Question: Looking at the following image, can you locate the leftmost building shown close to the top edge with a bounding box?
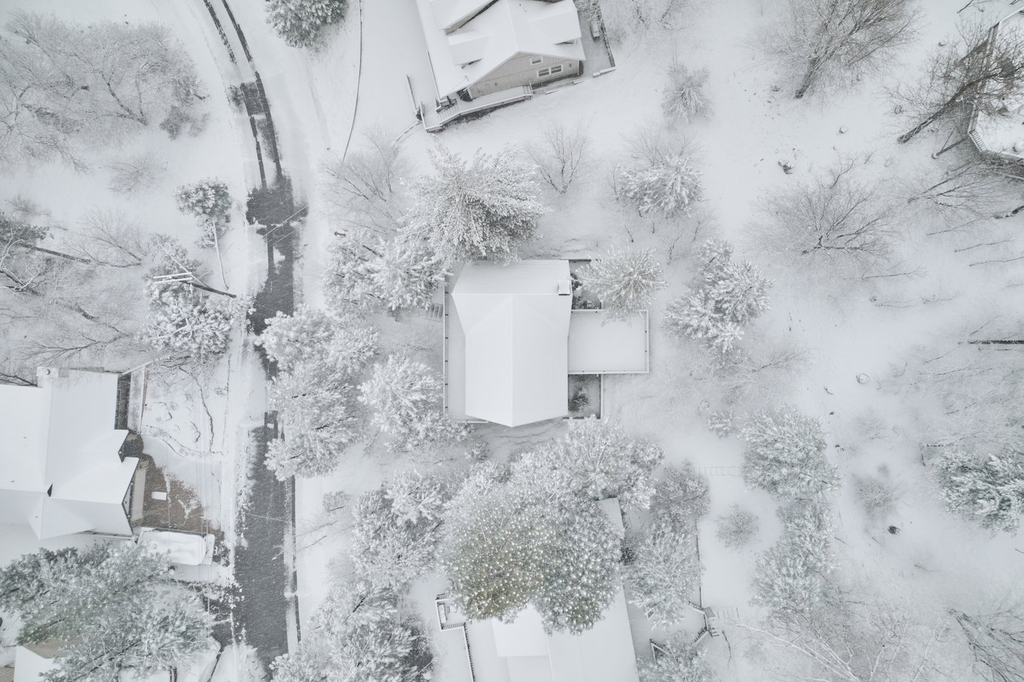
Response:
[417,0,585,110]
